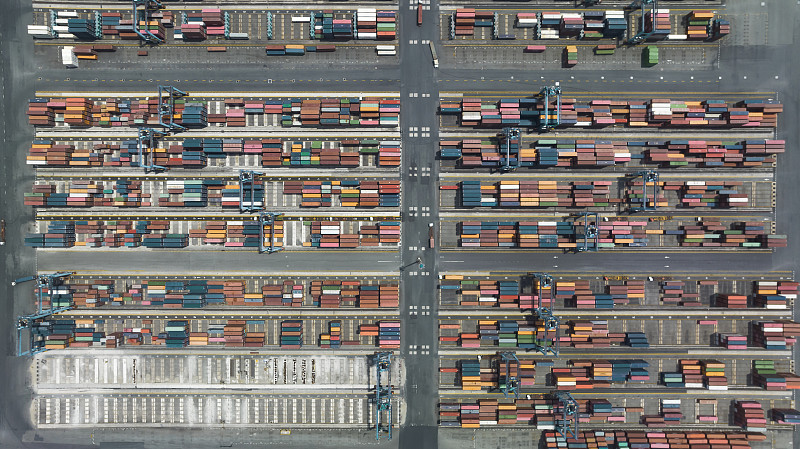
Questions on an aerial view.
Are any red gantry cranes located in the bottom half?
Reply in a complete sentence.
No, in the bottom half there is no red gantry crane.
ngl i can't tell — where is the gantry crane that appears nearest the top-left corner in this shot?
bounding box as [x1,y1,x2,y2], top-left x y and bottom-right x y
[133,0,166,45]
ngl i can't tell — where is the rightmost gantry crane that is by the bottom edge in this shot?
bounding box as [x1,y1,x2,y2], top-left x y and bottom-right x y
[550,390,580,440]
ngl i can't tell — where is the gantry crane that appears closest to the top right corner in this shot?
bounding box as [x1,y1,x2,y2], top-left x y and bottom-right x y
[623,0,658,46]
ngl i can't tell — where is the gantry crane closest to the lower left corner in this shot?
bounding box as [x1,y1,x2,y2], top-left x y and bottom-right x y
[18,311,58,357]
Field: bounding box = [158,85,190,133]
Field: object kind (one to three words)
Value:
container crane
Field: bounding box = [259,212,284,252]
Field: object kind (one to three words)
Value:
container crane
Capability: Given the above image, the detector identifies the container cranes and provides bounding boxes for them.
[138,126,172,173]
[374,390,394,440]
[259,212,284,252]
[133,0,166,45]
[158,85,190,133]
[18,311,58,357]
[533,80,561,133]
[239,169,266,212]
[374,351,395,398]
[527,272,555,315]
[550,390,580,440]
[570,212,600,253]
[496,127,523,173]
[623,0,658,46]
[624,169,659,213]
[38,271,77,315]
[495,351,521,399]
[532,312,560,357]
